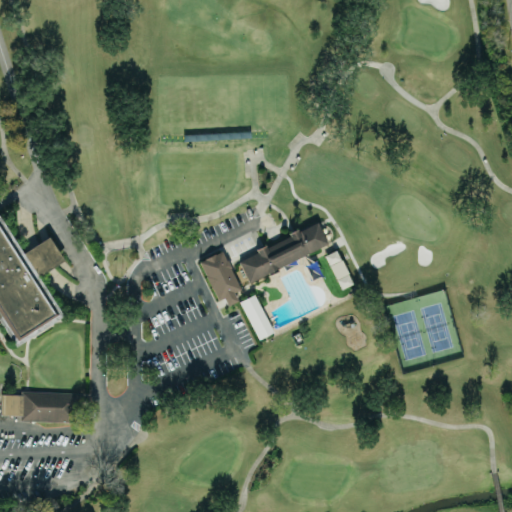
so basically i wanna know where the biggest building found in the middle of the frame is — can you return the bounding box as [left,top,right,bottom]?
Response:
[240,224,328,283]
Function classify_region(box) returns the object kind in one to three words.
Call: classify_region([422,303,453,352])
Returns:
tennis court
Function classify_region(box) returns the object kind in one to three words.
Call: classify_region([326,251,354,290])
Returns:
building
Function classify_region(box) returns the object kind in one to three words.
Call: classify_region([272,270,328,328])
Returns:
swimming pool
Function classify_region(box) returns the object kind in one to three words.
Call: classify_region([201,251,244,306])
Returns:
building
